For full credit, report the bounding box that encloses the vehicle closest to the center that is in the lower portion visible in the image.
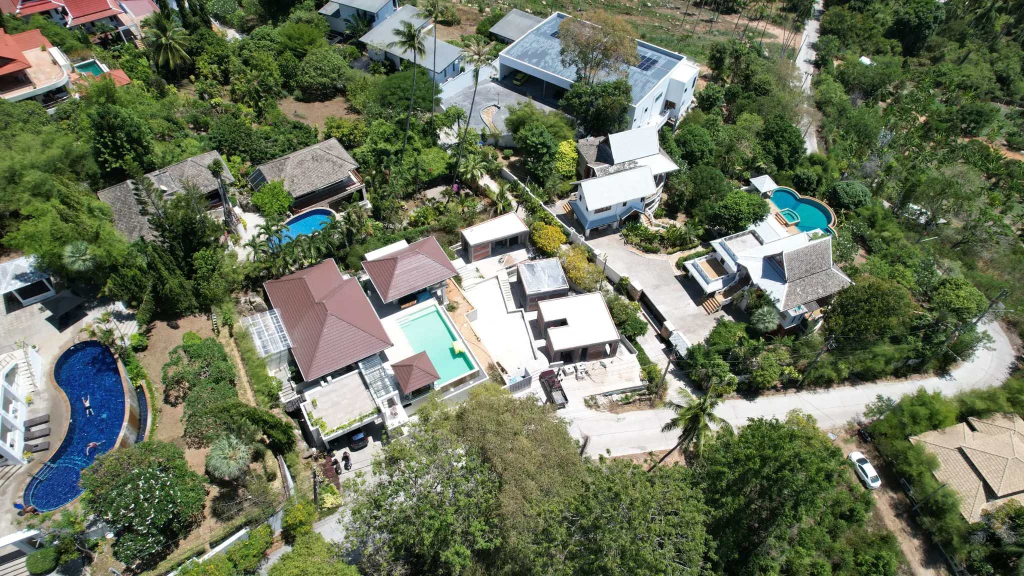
[538,372,572,410]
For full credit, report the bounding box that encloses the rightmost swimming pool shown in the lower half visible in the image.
[397,299,476,406]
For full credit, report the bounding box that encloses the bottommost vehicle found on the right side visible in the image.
[843,452,886,494]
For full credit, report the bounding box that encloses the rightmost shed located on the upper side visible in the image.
[900,203,939,230]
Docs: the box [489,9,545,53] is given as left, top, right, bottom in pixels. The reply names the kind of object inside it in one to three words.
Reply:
house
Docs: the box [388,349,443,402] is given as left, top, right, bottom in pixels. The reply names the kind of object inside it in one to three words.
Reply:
gazebo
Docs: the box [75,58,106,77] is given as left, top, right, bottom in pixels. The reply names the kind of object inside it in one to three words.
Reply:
swimming pool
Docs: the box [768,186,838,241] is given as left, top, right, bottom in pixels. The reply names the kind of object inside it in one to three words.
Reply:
swimming pool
